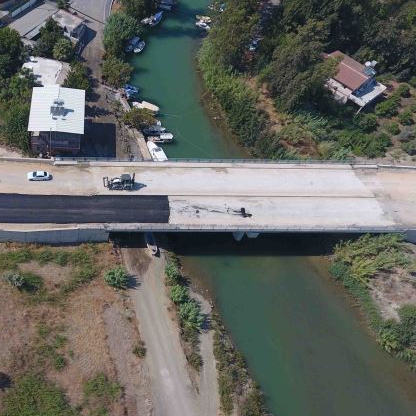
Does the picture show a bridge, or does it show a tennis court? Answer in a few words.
bridge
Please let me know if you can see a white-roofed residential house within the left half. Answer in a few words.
Yes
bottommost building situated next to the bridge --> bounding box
[27,87,85,153]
